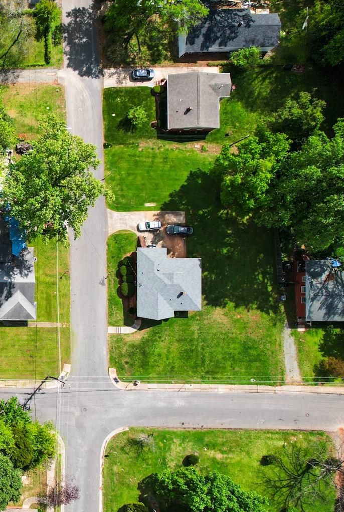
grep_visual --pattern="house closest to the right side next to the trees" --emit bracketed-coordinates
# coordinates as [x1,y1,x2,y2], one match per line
[284,260,344,325]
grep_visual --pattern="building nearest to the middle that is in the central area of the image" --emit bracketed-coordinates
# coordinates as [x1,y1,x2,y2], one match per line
[131,233,202,319]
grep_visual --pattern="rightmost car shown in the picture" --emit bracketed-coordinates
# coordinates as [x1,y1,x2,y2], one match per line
[164,223,194,236]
